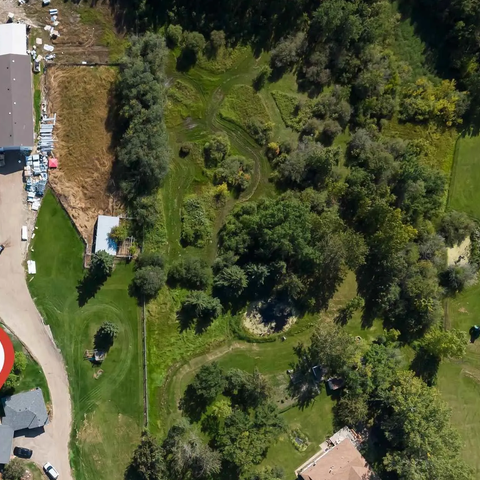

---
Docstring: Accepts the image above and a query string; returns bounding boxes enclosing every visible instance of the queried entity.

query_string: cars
[13,447,33,457]
[44,462,59,480]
